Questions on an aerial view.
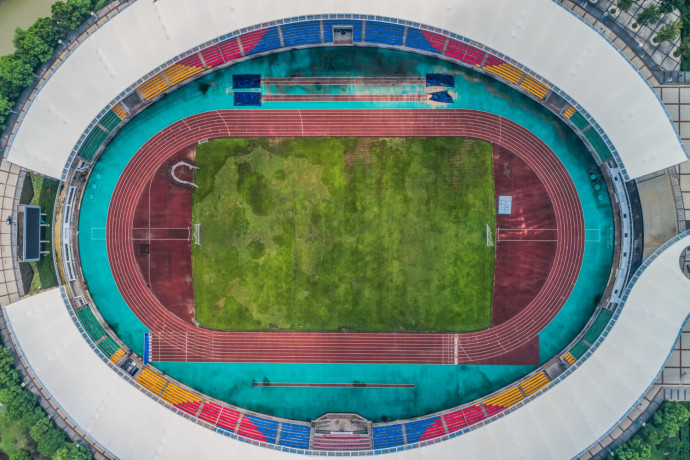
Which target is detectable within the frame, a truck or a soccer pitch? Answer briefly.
soccer pitch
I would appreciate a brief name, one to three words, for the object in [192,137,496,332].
soccer field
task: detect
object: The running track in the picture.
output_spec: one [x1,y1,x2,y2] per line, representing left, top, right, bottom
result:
[106,109,584,363]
